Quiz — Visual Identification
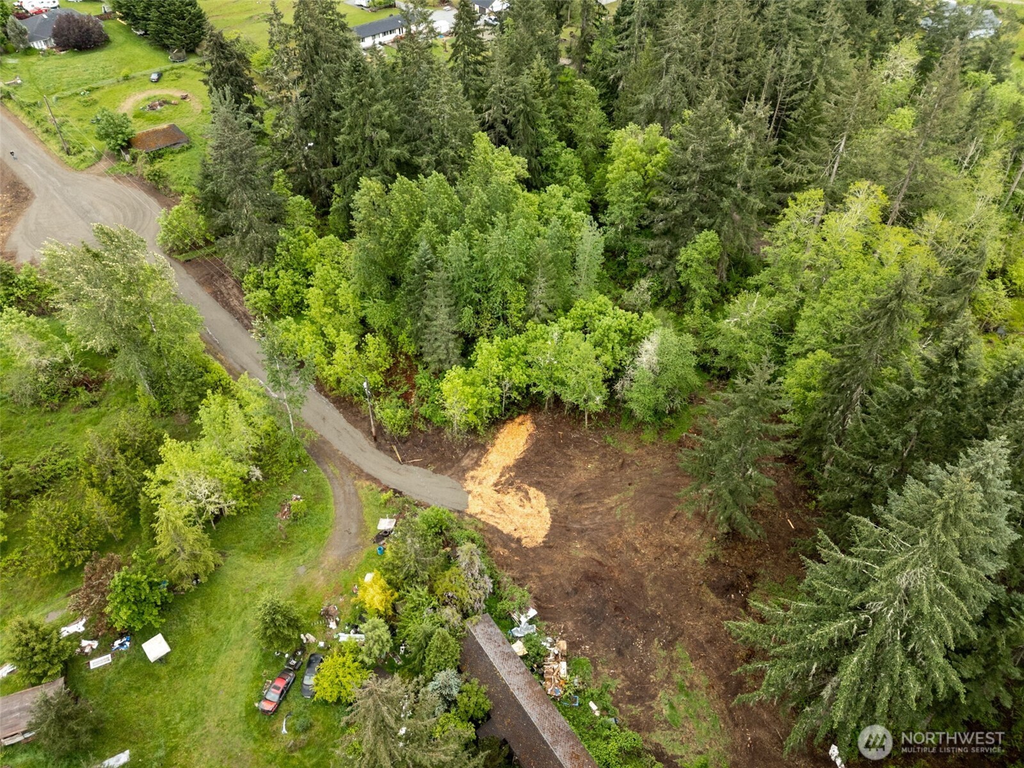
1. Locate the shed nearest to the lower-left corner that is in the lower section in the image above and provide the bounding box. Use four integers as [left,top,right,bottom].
[0,677,71,751]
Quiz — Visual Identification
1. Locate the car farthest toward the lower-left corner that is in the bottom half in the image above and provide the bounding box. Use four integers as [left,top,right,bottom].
[257,663,296,715]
